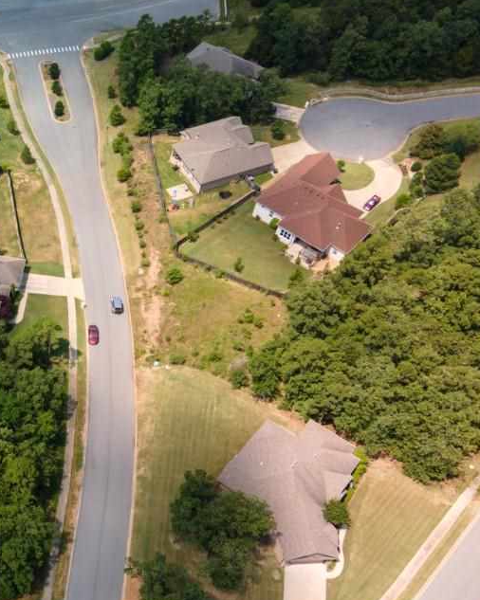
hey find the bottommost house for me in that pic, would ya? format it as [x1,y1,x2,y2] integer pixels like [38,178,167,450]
[219,419,361,573]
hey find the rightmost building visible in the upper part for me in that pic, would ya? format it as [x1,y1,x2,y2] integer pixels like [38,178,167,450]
[255,153,379,262]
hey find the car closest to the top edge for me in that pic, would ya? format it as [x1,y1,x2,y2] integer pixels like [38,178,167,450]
[364,197,380,210]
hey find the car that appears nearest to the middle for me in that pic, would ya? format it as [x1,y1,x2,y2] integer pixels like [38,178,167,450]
[110,295,124,314]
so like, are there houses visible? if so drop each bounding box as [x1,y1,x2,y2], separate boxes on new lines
[219,419,361,573]
[187,42,264,91]
[255,153,379,262]
[174,116,294,192]
[0,256,26,300]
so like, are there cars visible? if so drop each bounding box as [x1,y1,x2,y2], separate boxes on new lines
[110,295,124,314]
[364,197,380,210]
[89,325,100,345]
